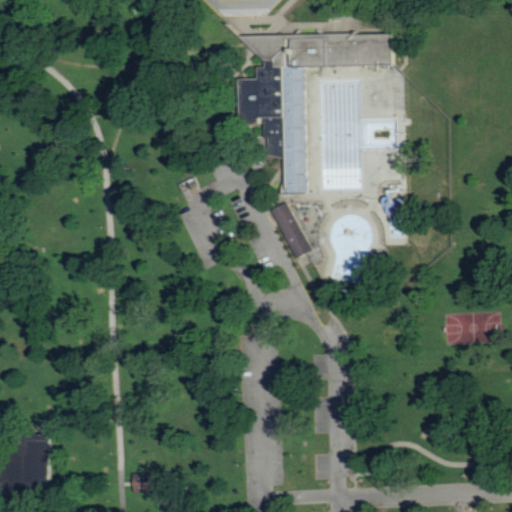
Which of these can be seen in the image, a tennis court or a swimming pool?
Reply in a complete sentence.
Looking from above, you can make out a swimming pool.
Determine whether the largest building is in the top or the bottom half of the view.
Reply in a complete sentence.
Seen from above, the largest building lies in the top half of the view.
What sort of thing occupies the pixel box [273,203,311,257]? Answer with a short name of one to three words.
building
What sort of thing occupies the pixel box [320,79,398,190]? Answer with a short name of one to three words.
swimming pool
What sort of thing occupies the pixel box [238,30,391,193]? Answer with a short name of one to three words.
building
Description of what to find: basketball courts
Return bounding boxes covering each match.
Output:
[446,312,502,345]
